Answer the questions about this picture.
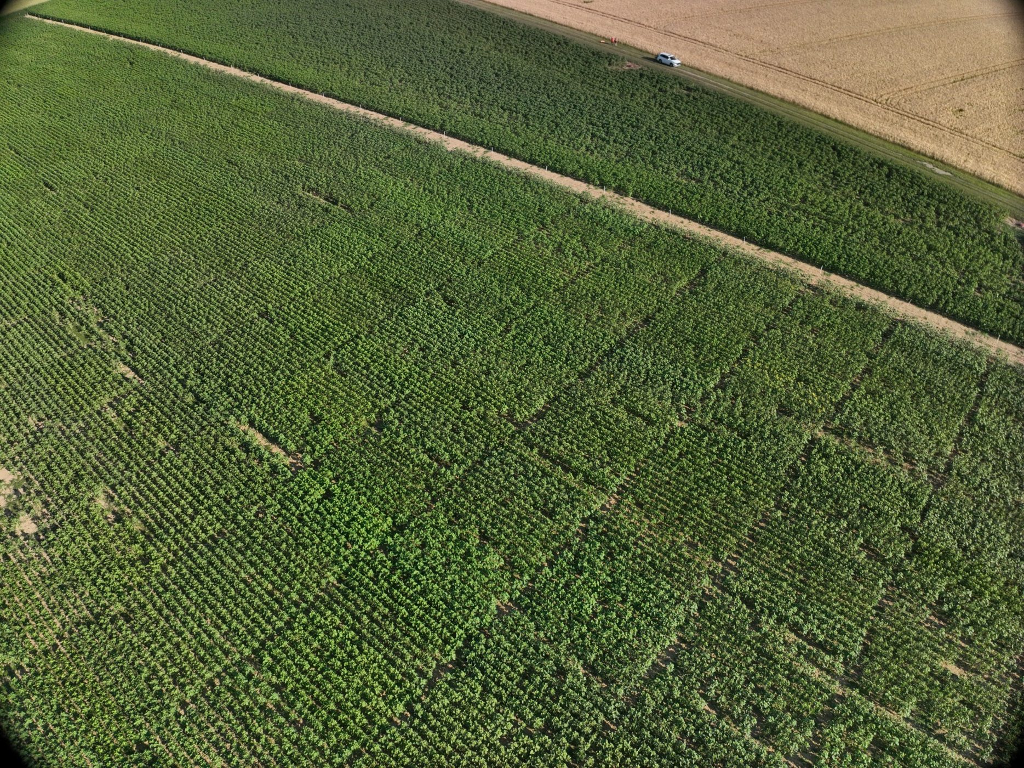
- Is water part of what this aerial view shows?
No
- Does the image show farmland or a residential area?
farmland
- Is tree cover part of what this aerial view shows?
No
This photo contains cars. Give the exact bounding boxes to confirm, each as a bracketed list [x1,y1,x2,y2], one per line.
[658,52,682,67]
